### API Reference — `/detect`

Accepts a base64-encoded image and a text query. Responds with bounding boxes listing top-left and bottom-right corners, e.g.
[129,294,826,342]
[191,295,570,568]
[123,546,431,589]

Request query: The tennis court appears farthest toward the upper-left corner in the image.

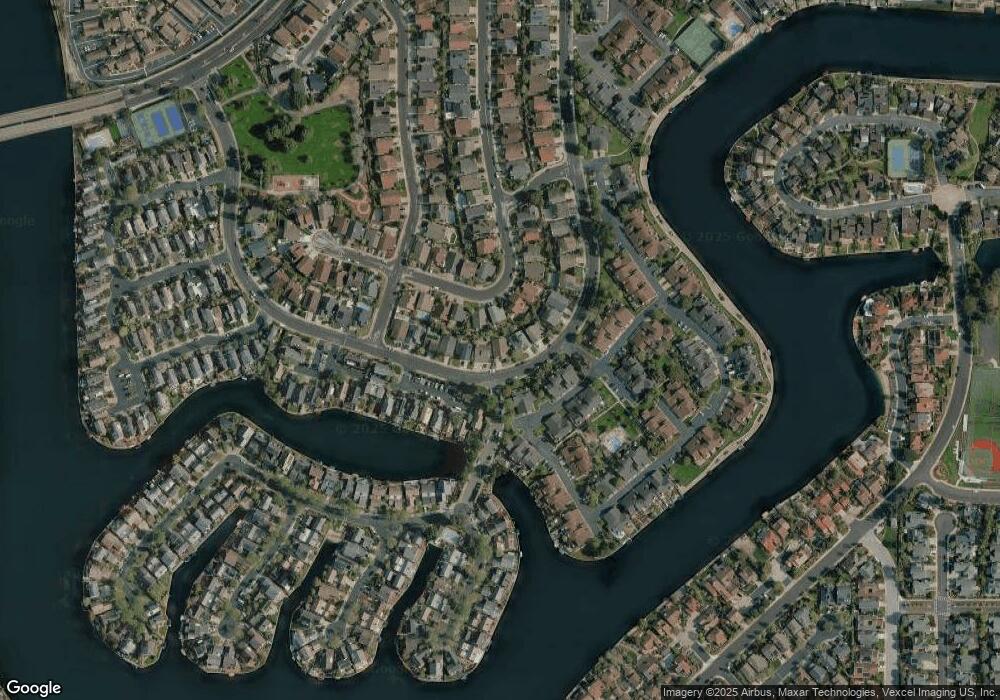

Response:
[132,99,185,147]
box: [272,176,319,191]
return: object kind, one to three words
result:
sports court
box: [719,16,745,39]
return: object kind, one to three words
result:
swimming pool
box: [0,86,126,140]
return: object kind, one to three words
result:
bridge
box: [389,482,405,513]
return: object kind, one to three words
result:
house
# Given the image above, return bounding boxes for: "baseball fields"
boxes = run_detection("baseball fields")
[961,367,1000,480]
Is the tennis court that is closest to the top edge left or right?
right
